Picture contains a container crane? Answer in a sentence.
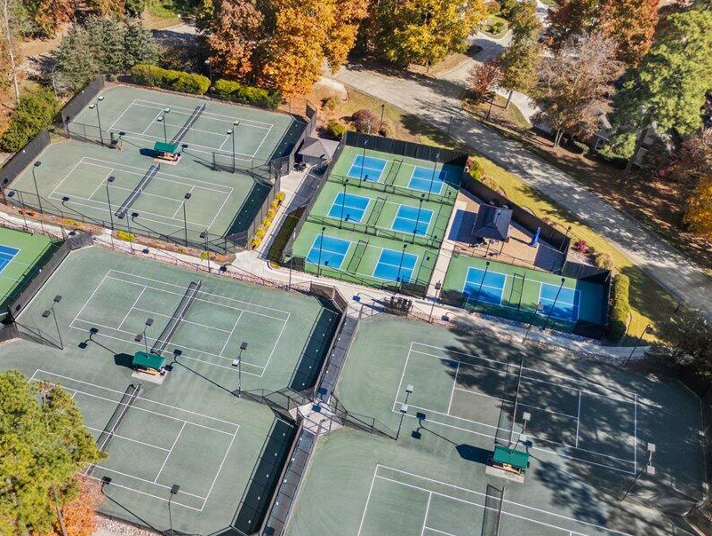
No, the photo shows no container crane.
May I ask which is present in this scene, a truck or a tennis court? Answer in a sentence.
This aerial view contains a tennis court.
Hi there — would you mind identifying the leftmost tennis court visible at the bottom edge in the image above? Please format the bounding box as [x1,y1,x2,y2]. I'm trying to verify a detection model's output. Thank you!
[0,323,315,536]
